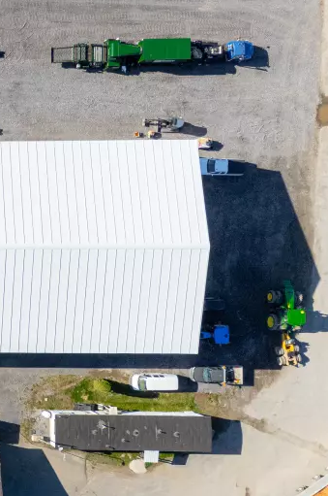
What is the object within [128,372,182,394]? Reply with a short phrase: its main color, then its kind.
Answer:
white vehicle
